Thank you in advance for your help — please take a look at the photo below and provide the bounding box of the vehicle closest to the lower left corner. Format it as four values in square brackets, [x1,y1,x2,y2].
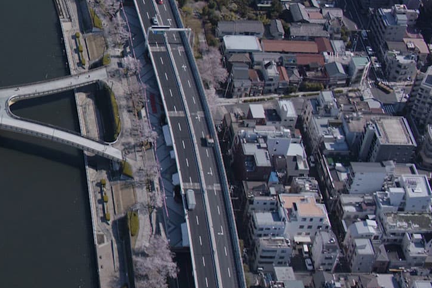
[188,188,200,212]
